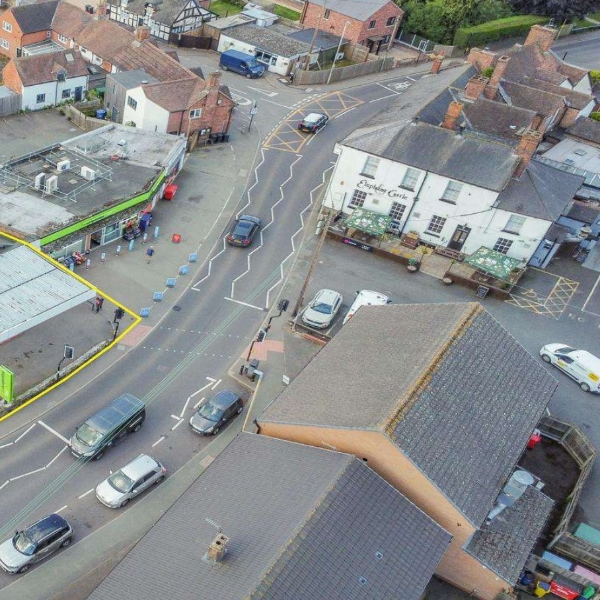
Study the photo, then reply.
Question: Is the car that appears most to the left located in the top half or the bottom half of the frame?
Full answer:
The car that appears most to the left sits in the bottom half of the picture.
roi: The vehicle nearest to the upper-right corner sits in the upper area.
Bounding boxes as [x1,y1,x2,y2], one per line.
[299,109,330,132]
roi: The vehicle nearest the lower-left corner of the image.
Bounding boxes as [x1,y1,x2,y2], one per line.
[0,503,81,574]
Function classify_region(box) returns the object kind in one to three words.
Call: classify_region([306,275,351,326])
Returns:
car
